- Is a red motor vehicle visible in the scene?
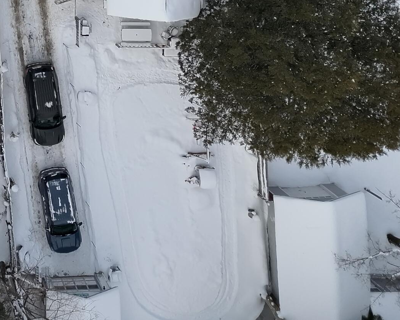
No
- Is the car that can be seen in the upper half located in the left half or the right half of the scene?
left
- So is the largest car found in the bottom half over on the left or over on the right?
left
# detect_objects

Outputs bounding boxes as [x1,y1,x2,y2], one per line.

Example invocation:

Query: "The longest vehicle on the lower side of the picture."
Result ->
[37,165,83,252]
